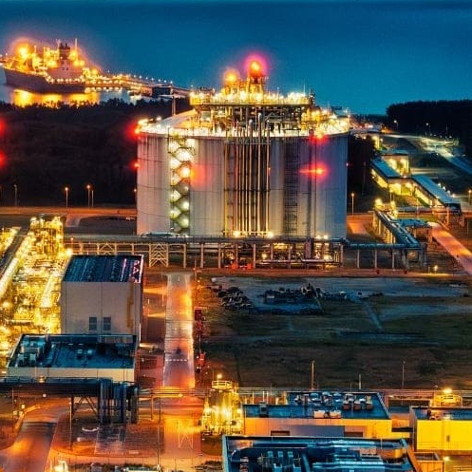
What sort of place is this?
industrial area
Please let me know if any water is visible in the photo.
Yes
